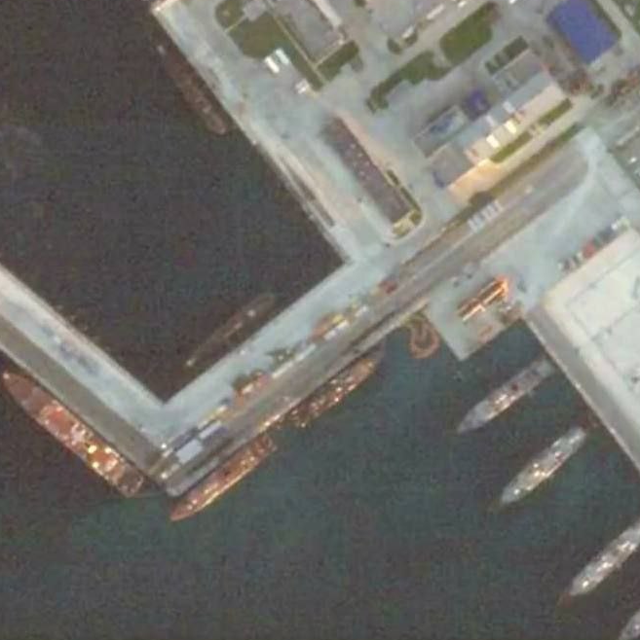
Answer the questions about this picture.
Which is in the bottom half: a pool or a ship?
ship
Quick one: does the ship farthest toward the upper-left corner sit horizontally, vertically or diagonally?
diagonally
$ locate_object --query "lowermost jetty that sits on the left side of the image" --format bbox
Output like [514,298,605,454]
[0,262,426,496]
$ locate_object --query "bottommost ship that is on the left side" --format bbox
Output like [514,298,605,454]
[171,437,281,521]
